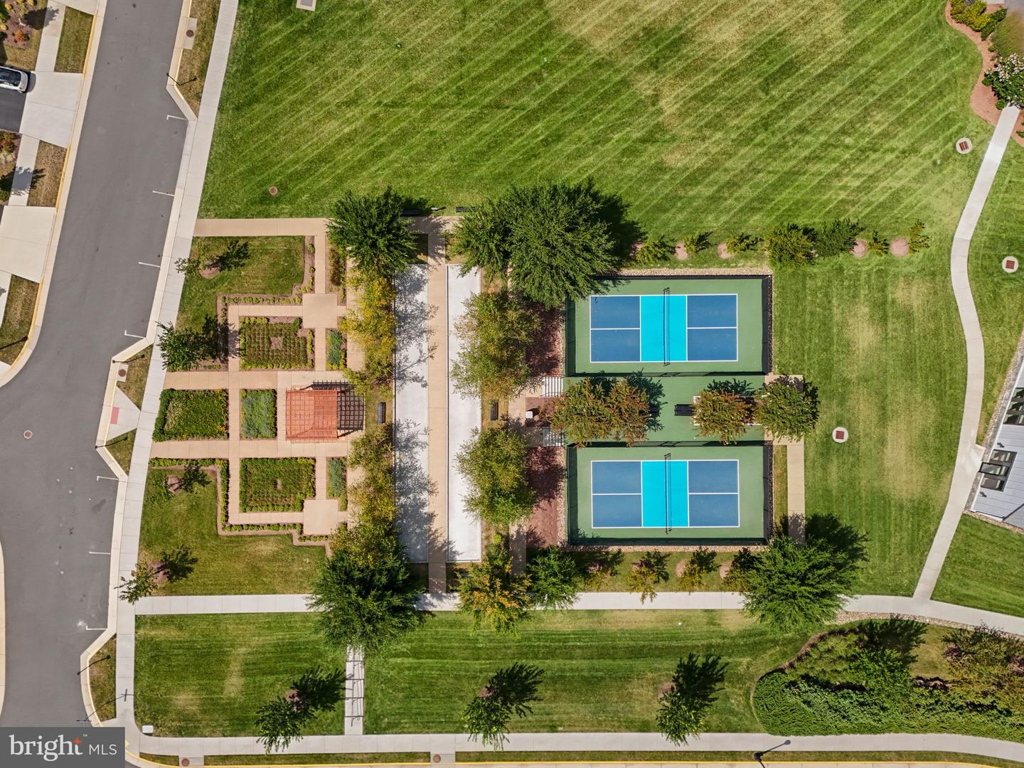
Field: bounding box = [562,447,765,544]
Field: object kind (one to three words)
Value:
sports court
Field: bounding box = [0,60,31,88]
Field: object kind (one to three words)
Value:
car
